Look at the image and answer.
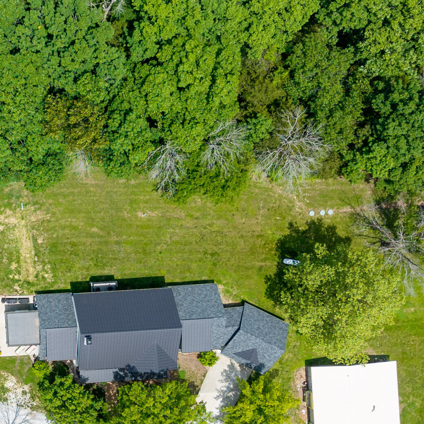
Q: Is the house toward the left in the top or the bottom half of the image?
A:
bottom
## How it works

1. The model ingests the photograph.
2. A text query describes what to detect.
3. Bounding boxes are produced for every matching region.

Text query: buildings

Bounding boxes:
[304,362,400,424]
[36,281,288,382]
